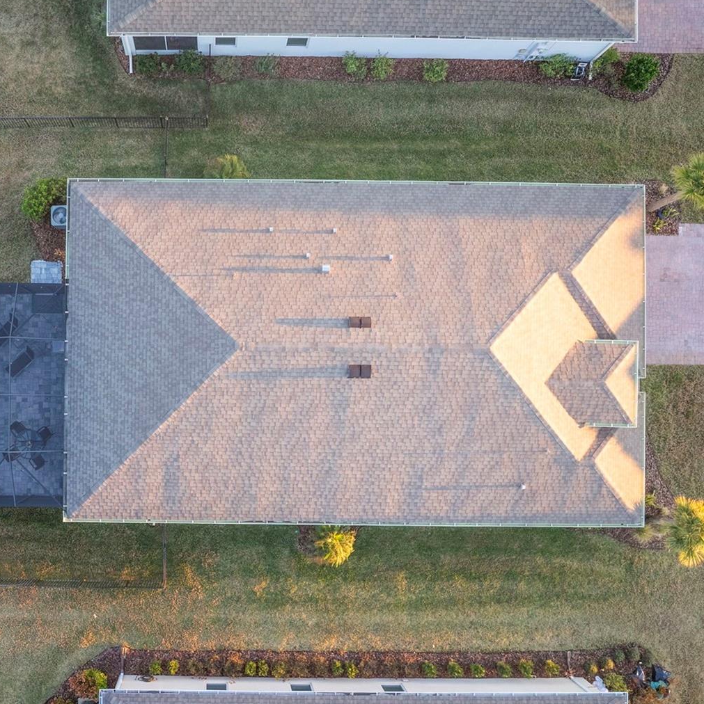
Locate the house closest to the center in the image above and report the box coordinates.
[63,178,646,528]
